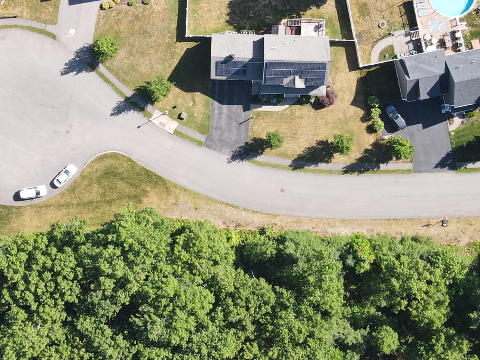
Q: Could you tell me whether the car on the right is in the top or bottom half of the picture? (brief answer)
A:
top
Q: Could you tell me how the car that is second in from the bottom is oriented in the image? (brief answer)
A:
on a diagonal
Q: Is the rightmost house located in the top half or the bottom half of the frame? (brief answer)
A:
top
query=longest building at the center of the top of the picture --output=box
[209,33,331,98]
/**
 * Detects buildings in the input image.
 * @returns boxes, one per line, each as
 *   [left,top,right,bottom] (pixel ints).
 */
[209,33,331,98]
[396,49,480,113]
